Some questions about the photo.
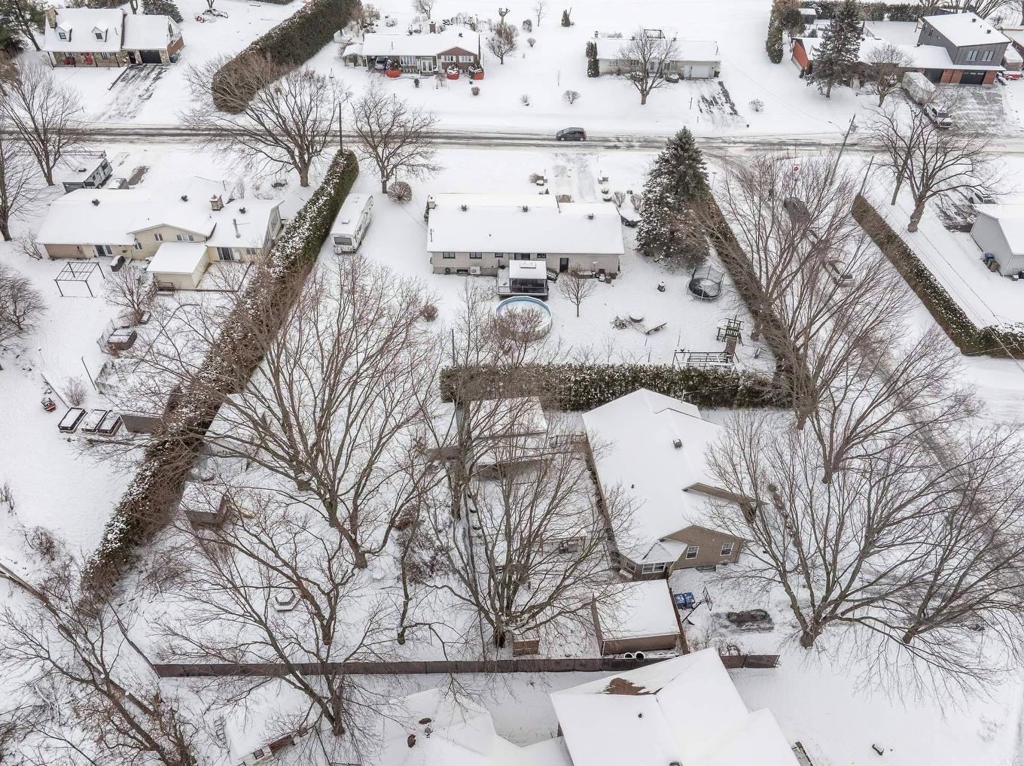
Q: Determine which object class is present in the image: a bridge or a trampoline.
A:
trampoline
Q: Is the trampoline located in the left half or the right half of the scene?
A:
right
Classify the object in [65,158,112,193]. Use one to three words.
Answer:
trailer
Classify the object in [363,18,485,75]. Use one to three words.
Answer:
house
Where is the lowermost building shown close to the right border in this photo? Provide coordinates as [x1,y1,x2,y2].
[953,198,1024,276]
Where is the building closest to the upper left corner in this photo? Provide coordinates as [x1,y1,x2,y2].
[38,5,191,68]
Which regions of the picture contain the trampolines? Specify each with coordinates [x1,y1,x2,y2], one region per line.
[685,263,729,308]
